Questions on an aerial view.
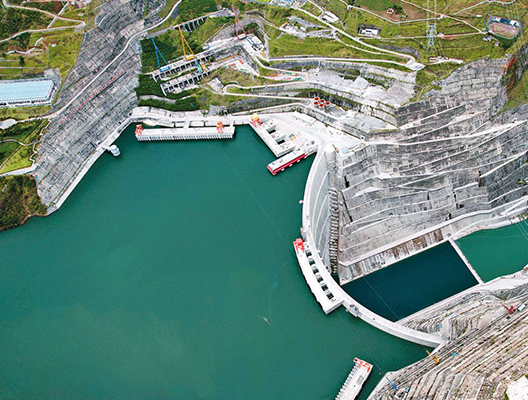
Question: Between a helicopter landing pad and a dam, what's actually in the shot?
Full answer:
I can see a dam in this picture.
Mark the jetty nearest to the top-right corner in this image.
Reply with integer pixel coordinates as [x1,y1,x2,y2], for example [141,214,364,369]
[268,147,318,179]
